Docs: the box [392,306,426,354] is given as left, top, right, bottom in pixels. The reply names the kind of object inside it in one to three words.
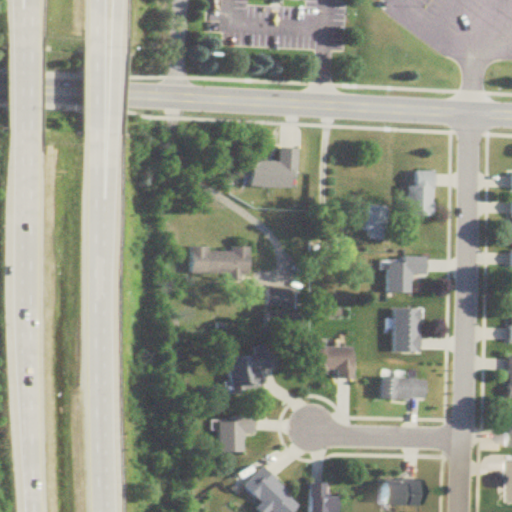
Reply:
house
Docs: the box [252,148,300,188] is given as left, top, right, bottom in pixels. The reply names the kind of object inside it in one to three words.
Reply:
house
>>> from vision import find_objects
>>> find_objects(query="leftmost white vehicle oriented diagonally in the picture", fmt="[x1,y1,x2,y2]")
[239,464,256,478]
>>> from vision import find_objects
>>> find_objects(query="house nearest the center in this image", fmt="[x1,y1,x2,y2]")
[191,246,252,281]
